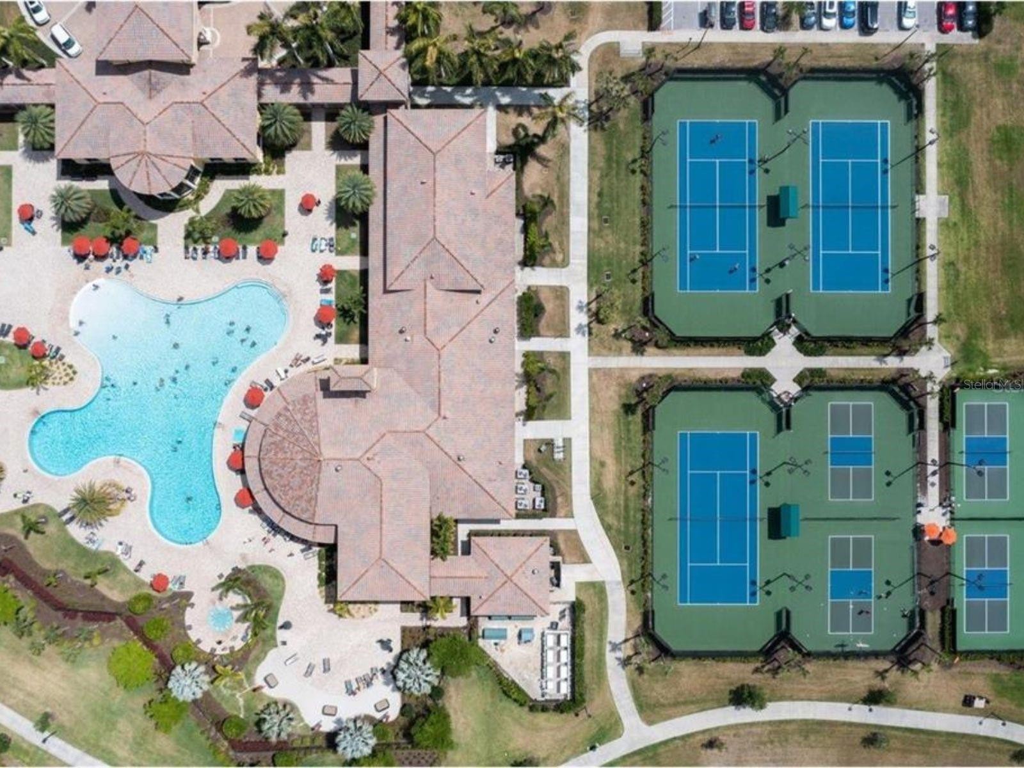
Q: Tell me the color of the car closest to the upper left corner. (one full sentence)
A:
The car closest to the upper left corner looks white in the image.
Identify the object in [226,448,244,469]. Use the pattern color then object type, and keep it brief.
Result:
red umbrella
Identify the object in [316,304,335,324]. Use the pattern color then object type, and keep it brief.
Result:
red umbrella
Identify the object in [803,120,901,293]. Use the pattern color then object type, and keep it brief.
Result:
blue tennis court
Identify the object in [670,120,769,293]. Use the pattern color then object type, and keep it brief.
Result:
blue tennis court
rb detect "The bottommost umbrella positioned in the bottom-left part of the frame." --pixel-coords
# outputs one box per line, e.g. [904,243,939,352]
[151,573,171,592]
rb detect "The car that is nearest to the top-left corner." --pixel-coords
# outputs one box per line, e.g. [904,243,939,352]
[24,0,51,29]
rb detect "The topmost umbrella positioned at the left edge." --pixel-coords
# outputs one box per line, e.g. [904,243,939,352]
[17,202,36,222]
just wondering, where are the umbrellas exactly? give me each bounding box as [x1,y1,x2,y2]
[31,339,51,359]
[938,525,960,546]
[226,448,244,469]
[235,488,255,508]
[151,573,171,592]
[298,192,318,213]
[17,202,36,222]
[258,238,279,259]
[220,236,241,257]
[121,236,140,255]
[244,386,266,408]
[319,264,337,282]
[11,327,31,347]
[71,235,92,255]
[921,521,940,541]
[316,304,335,324]
[92,237,111,256]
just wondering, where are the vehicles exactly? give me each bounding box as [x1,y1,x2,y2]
[52,23,83,58]
[720,0,736,31]
[740,0,756,30]
[802,0,818,29]
[899,0,916,30]
[860,0,879,34]
[965,694,985,707]
[938,0,956,33]
[840,0,857,29]
[24,0,51,29]
[703,0,719,26]
[761,0,777,33]
[958,0,974,31]
[821,0,838,30]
